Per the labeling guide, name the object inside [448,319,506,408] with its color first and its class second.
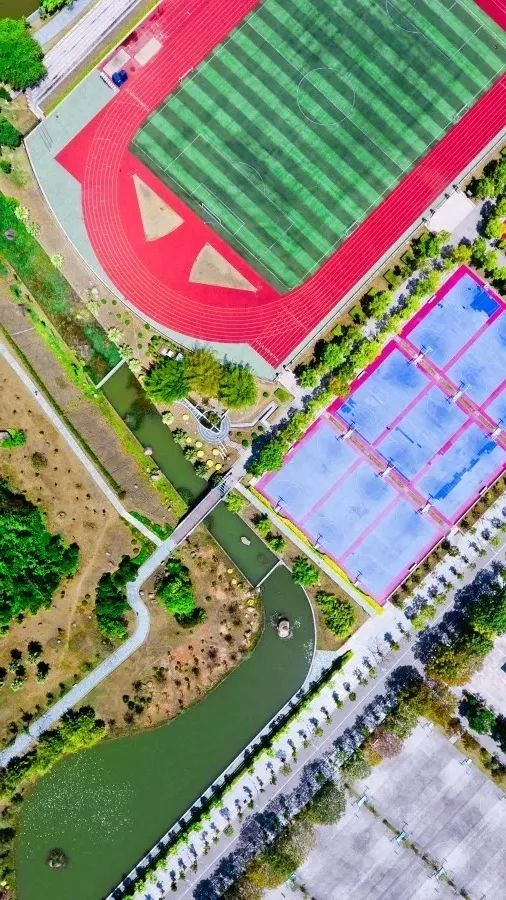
blue basketball court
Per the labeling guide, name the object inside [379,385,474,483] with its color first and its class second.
blue basketball court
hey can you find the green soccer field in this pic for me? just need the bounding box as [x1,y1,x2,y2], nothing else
[129,0,506,294]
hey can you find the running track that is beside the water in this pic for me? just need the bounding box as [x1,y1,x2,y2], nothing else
[57,0,506,367]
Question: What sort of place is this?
sports ground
